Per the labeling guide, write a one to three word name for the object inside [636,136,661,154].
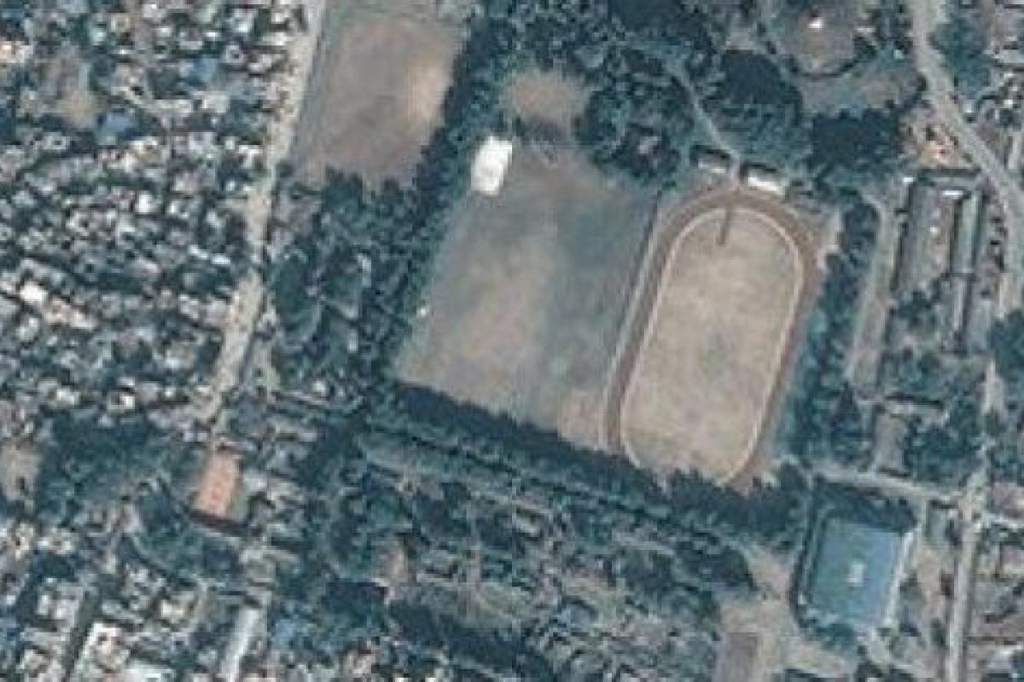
house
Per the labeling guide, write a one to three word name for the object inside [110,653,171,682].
house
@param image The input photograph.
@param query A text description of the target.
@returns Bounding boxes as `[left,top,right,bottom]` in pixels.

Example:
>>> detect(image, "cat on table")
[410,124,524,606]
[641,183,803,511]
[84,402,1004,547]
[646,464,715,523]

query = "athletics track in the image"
[601,184,820,508]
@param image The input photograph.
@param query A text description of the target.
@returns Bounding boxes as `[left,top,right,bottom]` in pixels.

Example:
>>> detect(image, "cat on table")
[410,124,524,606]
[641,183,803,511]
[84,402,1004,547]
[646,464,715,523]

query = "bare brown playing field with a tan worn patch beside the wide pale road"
[295,0,470,184]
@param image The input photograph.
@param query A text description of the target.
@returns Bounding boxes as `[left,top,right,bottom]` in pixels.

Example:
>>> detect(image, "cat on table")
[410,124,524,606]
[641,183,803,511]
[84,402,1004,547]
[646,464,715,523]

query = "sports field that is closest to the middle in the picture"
[399,136,656,450]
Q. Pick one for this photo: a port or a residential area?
residential area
